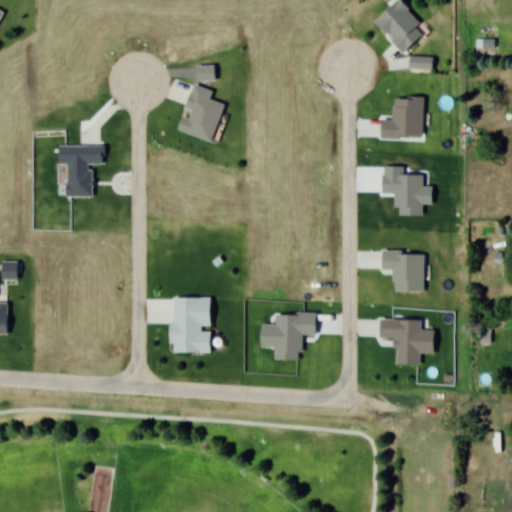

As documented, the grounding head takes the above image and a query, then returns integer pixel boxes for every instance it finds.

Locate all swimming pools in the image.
[426,366,439,380]
[479,372,492,386]
[438,94,455,112]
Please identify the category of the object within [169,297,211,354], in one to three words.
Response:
house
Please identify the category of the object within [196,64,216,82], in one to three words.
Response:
building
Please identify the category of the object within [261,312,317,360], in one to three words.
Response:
house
